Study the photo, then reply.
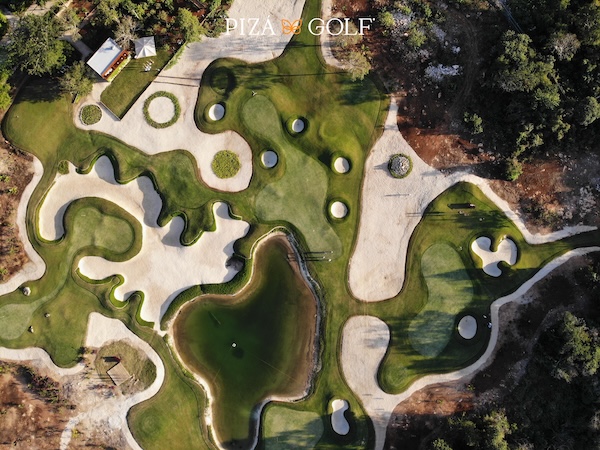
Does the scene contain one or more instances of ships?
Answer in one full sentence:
No, there is no ship in the image.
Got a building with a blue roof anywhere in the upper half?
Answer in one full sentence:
No, in the upper half there is no building with a blue roof.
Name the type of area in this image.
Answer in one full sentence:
This image shows a golf course.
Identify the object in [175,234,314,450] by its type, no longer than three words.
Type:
pond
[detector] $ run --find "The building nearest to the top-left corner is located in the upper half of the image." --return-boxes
[84,36,131,83]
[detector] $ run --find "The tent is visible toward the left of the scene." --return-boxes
[134,37,159,61]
